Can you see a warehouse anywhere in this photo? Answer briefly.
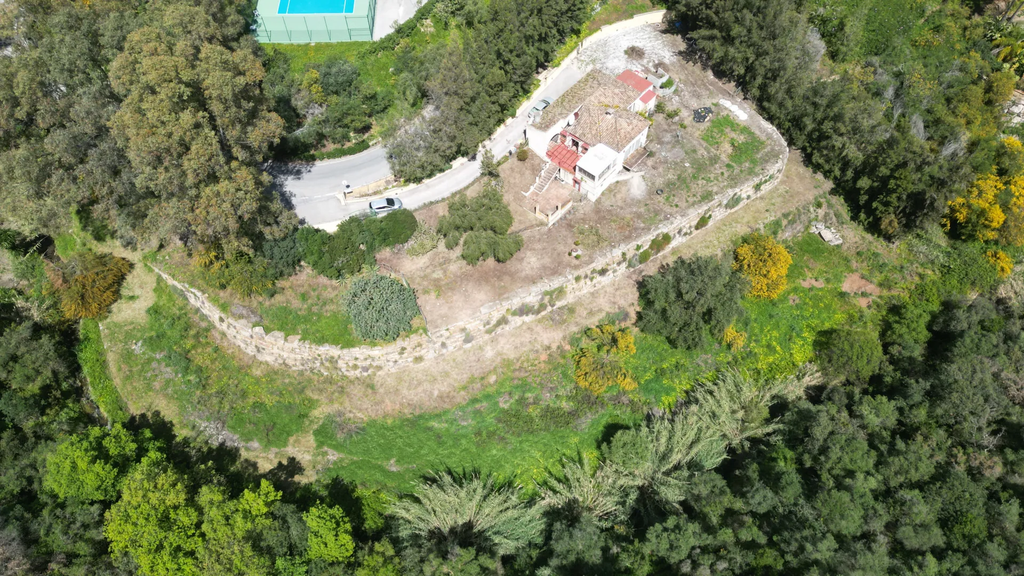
No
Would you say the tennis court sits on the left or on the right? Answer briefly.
left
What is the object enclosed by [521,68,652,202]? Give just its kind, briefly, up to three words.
house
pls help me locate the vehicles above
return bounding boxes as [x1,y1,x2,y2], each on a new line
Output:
[529,98,553,119]
[370,196,405,215]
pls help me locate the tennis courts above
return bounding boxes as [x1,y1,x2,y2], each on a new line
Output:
[258,0,376,46]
